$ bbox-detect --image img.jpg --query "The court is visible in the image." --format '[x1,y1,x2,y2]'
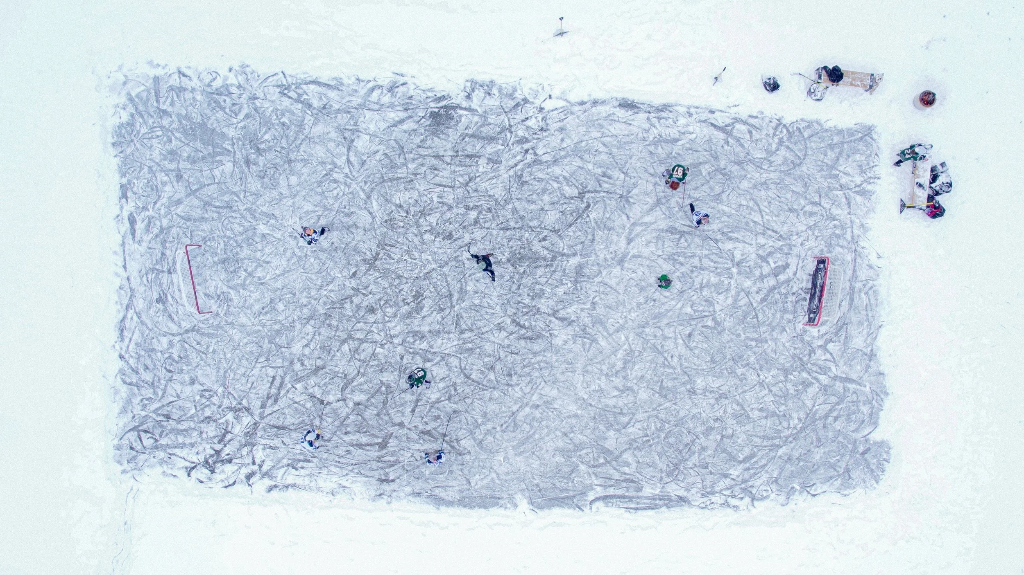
[101,61,897,521]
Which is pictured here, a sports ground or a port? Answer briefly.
sports ground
